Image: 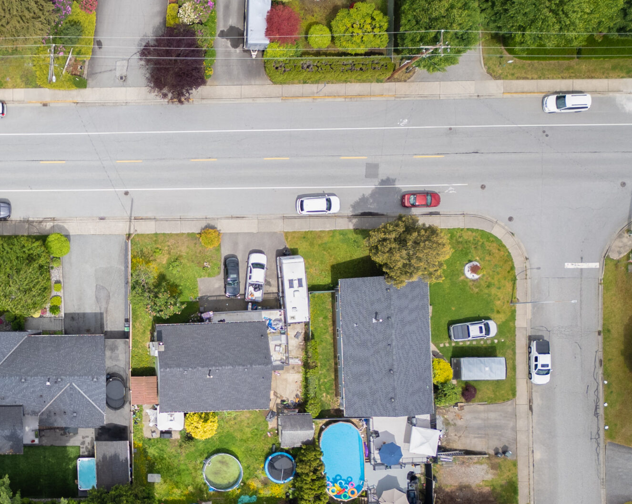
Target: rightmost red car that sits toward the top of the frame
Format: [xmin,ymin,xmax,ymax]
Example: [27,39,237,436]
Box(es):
[399,191,440,209]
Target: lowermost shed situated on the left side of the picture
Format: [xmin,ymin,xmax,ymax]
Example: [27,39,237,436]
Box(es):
[94,440,130,492]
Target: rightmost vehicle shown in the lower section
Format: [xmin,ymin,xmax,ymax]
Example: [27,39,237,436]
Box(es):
[527,340,552,384]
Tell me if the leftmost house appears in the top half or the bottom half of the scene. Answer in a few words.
bottom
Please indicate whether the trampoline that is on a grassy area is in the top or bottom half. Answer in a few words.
bottom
